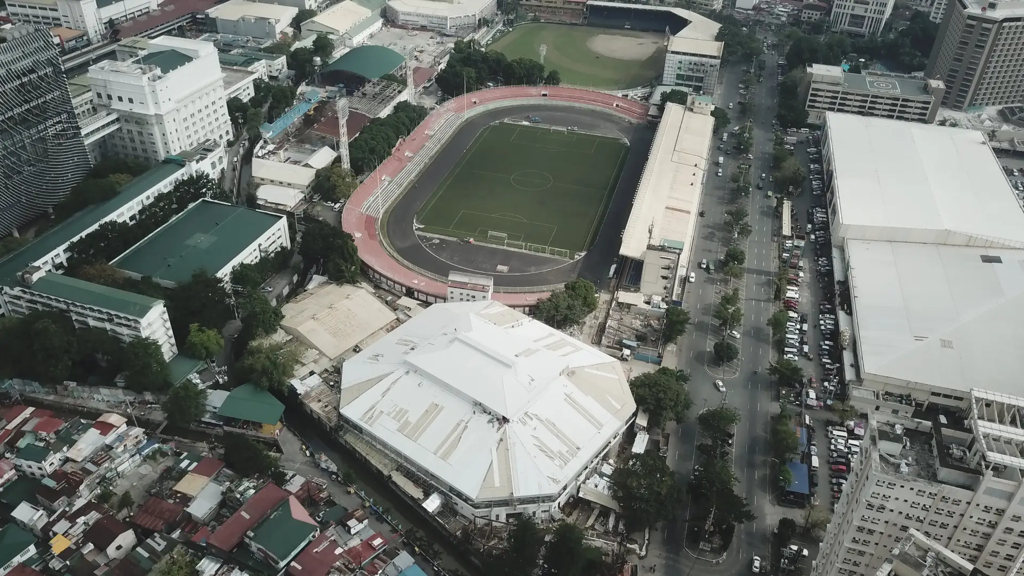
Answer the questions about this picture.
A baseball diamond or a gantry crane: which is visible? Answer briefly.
baseball diamond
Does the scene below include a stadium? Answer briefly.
Yes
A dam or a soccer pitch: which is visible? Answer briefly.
soccer pitch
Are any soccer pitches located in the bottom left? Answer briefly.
No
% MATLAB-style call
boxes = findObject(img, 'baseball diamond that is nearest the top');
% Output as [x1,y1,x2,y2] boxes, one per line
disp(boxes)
[481,24,669,88]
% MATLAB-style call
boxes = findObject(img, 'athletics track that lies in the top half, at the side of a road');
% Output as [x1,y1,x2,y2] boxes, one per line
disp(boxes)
[387,105,660,311]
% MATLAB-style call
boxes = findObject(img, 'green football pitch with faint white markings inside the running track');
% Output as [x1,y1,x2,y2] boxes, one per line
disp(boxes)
[405,122,633,261]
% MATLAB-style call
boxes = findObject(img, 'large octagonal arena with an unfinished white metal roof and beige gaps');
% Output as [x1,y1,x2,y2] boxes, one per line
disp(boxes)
[340,300,635,533]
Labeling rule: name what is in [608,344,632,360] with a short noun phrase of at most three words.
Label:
vehicle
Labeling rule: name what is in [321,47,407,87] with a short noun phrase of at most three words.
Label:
building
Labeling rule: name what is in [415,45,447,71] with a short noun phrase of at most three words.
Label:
shed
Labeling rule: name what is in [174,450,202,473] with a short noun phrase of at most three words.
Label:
house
